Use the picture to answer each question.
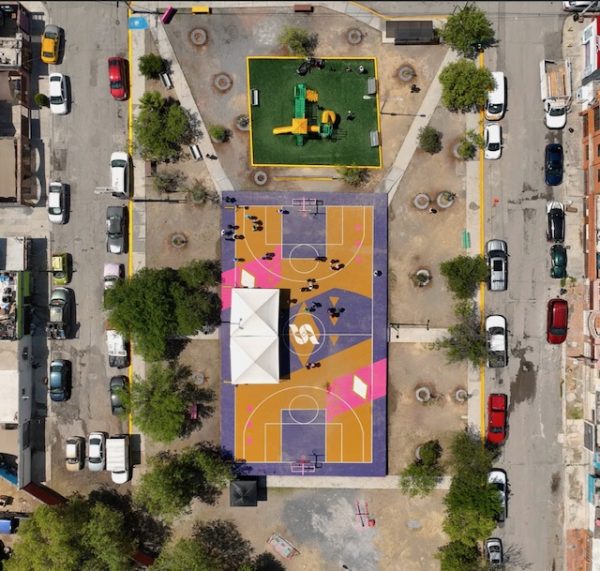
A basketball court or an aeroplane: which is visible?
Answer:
basketball court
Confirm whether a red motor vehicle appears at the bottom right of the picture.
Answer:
Yes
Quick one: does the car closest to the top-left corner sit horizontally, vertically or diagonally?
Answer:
vertically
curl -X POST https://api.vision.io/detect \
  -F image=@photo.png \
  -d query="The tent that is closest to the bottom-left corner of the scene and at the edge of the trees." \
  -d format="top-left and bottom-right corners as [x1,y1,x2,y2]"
[230,476,259,507]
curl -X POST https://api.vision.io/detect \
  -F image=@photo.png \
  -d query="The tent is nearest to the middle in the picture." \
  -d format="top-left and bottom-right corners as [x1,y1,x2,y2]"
[231,289,281,336]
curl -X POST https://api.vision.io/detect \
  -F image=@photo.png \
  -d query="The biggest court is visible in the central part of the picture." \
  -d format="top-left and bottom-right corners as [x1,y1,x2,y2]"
[220,192,387,476]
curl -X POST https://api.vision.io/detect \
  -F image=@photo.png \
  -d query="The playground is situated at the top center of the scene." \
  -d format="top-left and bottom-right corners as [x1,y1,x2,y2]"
[247,56,383,167]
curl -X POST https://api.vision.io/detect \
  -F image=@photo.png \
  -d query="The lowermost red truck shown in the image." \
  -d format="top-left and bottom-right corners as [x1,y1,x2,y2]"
[486,393,507,444]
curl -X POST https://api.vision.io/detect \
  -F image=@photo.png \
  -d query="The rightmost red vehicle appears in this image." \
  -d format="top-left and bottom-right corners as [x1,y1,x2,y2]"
[546,298,568,345]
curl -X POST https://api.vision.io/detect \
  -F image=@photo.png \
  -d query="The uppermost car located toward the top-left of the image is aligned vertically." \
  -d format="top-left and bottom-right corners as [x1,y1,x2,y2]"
[42,25,62,66]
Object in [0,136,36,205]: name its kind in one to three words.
house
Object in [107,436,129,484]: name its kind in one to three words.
truck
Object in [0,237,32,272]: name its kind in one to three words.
house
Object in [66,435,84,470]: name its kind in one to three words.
car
